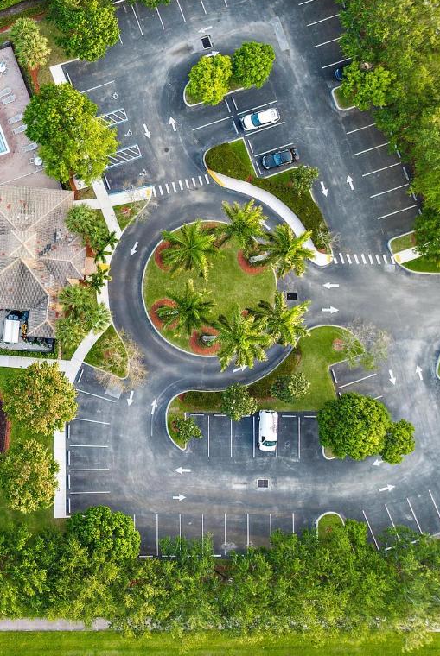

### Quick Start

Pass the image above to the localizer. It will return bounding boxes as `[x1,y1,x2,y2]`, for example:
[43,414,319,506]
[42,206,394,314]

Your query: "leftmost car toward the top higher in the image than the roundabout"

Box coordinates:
[244,106,282,129]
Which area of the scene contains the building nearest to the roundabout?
left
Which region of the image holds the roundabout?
center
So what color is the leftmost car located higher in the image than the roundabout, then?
white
